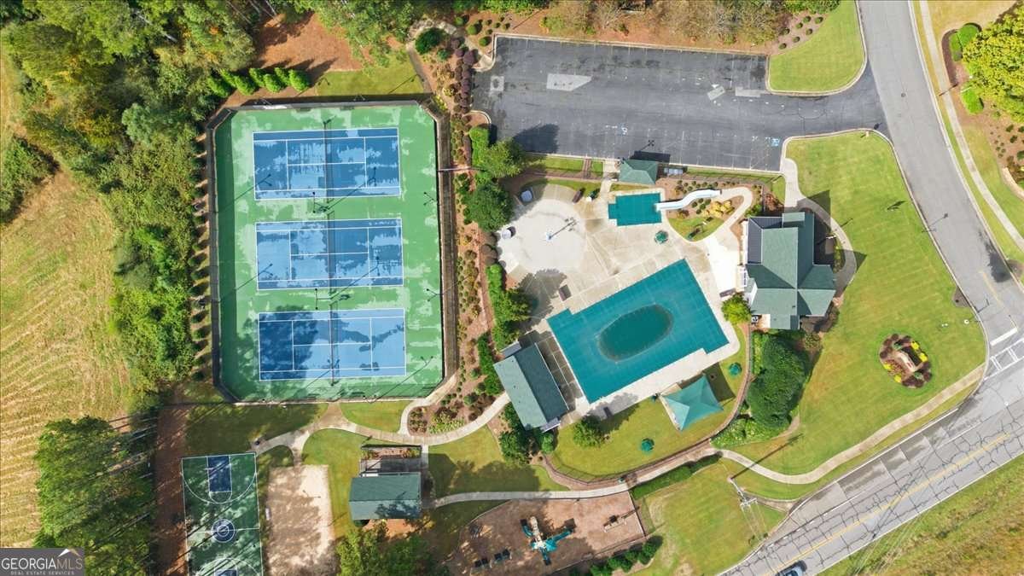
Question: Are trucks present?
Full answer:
No, the photo shows no truck.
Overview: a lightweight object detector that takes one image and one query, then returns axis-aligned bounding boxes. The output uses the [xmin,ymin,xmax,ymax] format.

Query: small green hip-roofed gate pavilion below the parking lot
[617,160,658,185]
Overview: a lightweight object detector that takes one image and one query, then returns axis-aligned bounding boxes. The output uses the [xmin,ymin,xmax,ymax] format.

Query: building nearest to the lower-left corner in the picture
[347,473,421,521]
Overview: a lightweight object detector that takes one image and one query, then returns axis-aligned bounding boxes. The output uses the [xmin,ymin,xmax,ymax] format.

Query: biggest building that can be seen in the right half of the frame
[736,212,838,330]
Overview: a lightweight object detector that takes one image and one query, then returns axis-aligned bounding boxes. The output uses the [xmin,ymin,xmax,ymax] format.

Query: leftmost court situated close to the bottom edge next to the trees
[181,452,265,576]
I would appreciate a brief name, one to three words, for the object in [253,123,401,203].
tennis court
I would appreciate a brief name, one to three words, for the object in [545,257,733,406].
swimming pool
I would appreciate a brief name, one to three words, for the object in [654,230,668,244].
umbrella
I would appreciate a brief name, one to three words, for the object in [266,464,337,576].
sports court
